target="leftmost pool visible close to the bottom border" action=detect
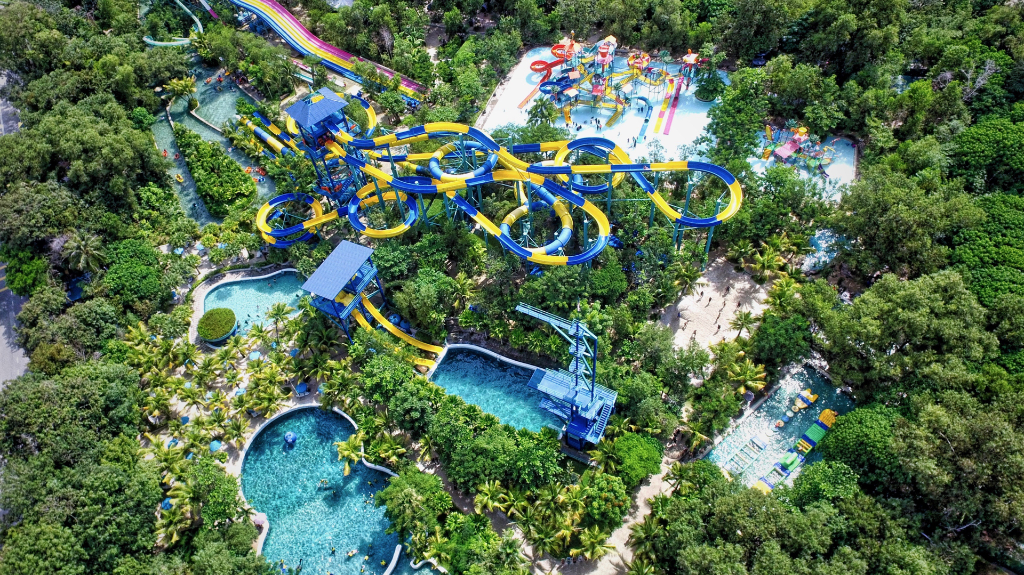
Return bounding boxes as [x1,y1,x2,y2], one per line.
[241,405,445,575]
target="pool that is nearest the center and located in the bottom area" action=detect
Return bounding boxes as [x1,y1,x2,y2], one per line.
[431,346,574,433]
